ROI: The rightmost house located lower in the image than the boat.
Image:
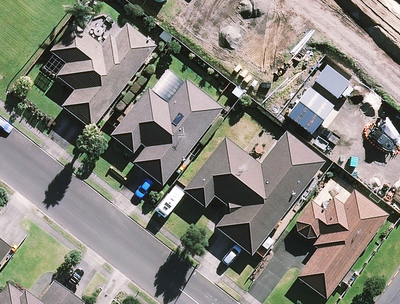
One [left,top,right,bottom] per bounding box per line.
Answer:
[298,190,390,298]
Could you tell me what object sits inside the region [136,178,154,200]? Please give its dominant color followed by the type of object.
blue car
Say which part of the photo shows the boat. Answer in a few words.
right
